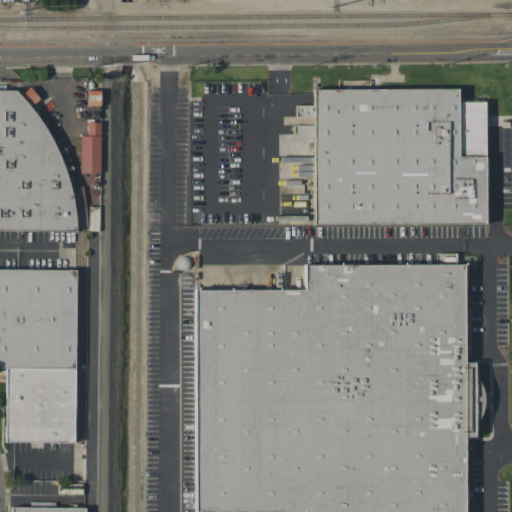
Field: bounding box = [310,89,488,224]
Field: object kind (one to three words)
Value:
warehouse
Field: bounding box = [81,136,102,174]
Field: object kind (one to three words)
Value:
building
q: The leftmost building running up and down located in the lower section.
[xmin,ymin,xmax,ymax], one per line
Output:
[0,270,78,442]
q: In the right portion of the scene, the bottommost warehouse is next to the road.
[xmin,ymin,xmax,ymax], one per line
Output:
[194,265,487,512]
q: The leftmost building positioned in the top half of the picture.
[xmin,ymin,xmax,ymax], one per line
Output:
[0,90,78,231]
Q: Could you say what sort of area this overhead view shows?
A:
industrial area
